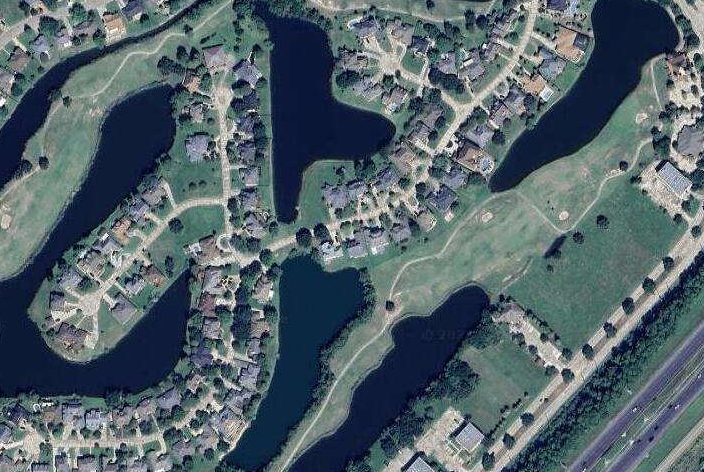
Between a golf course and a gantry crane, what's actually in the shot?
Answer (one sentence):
The image shows a golf course.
